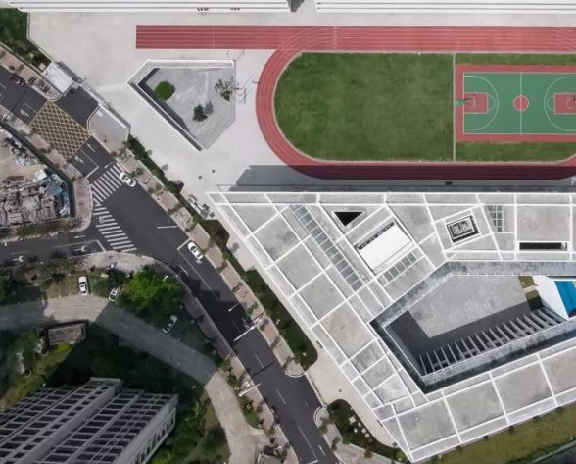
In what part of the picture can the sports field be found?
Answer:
top right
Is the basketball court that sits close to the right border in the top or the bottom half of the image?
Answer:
top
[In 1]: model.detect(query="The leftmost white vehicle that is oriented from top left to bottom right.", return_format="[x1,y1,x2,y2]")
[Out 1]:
[118,171,135,187]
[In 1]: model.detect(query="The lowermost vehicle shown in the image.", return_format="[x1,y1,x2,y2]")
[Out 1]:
[163,315,177,334]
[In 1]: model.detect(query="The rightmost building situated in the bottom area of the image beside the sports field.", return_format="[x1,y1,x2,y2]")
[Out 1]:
[206,191,576,464]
